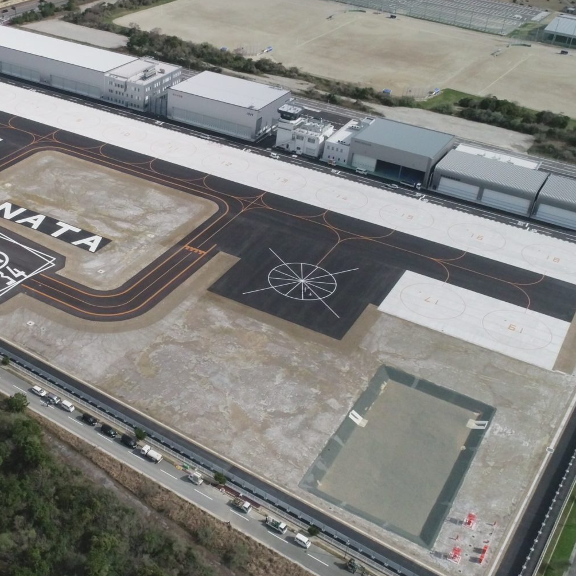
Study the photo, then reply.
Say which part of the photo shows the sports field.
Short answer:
top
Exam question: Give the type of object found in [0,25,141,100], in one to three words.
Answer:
hangar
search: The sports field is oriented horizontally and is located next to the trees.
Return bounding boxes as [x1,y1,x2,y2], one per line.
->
[117,0,576,122]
